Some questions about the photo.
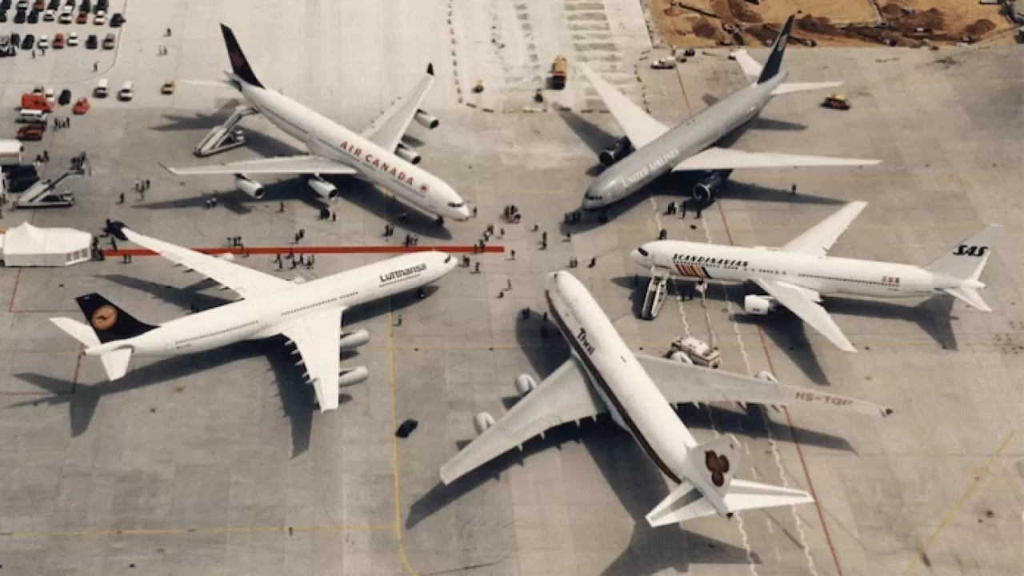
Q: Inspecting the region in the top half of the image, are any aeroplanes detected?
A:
Yes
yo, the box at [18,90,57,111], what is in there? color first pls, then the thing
red truck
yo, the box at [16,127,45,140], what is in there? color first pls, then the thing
red vehicle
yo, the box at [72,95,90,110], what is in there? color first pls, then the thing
red car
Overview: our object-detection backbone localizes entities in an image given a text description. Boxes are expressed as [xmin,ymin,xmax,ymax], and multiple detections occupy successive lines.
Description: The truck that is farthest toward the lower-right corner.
[665,332,717,363]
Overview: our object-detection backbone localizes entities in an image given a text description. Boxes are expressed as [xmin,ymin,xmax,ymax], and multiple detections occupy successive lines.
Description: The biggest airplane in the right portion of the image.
[446,268,889,528]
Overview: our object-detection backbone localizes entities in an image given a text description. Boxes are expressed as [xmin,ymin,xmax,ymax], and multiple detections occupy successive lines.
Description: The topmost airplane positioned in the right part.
[577,15,880,221]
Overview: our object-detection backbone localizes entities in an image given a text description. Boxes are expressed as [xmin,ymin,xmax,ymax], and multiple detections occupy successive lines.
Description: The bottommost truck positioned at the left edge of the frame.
[1,164,42,195]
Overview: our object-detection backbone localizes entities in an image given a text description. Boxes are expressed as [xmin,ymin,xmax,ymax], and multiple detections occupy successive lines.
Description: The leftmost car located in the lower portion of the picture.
[394,418,419,433]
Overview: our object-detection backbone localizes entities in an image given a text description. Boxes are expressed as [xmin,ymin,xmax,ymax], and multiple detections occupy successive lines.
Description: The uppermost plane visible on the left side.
[154,23,473,224]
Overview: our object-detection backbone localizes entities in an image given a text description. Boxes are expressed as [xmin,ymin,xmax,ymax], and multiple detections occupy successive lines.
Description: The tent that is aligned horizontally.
[3,223,92,266]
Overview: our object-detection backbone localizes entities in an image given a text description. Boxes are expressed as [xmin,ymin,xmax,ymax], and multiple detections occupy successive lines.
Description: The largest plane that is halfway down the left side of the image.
[49,224,458,414]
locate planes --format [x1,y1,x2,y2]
[154,23,473,224]
[49,224,458,414]
[631,201,1006,351]
[577,15,880,221]
[446,268,889,528]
